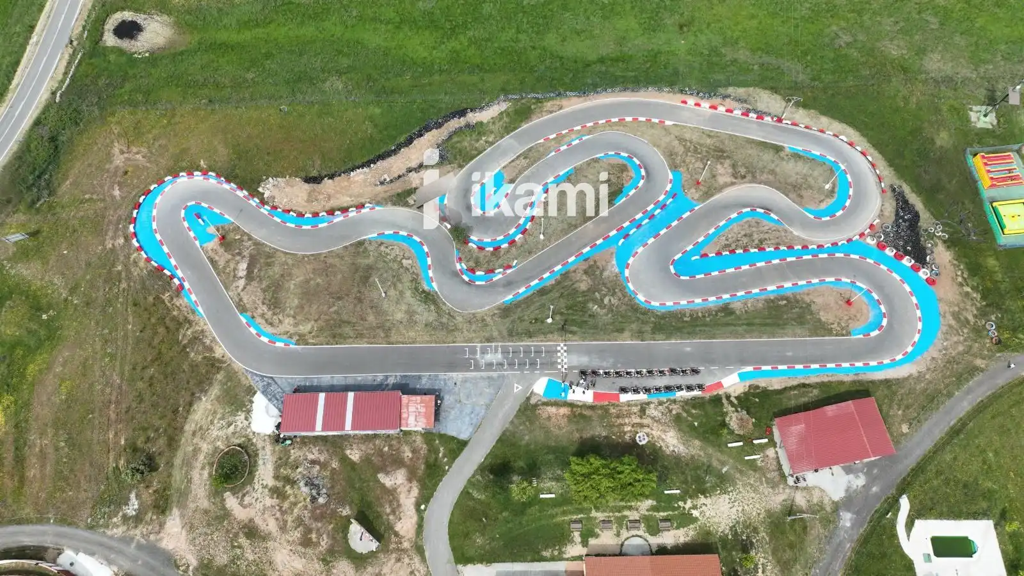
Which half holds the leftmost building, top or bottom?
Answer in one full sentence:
It is in the bottom half that the leftmost building appears.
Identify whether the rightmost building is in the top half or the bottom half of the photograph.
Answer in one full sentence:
The bottom half of the photo is where the rightmost building is.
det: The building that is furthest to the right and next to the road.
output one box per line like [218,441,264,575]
[770,397,895,476]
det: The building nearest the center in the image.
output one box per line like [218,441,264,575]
[401,395,435,430]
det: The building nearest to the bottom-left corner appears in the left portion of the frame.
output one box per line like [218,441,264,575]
[281,391,401,435]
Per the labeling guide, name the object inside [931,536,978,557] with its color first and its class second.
green swimming pool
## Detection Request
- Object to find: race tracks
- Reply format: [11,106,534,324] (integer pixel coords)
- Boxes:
[157,100,917,376]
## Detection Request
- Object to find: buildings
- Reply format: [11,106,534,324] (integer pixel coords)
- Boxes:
[770,397,895,476]
[281,391,401,435]
[580,555,723,576]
